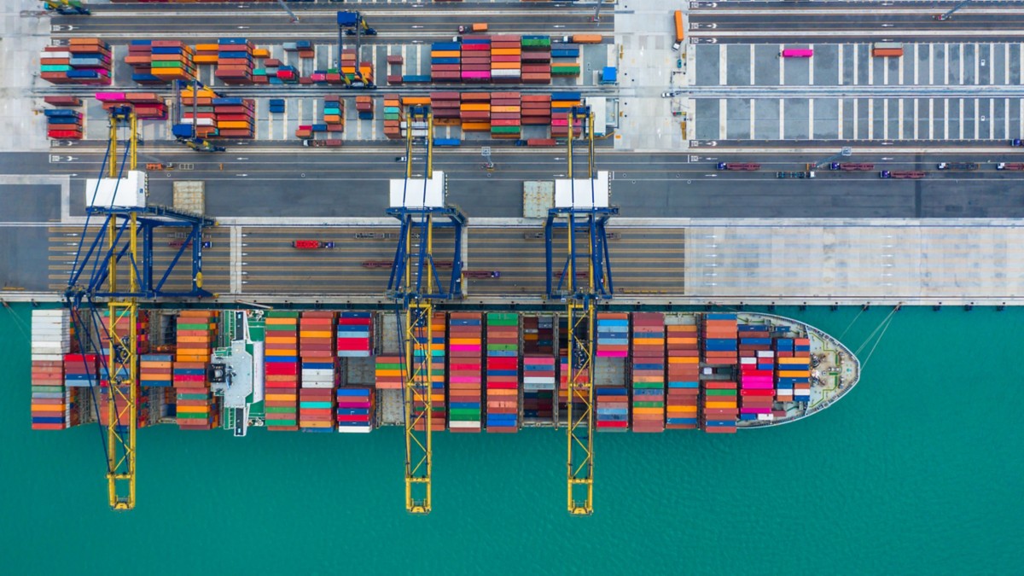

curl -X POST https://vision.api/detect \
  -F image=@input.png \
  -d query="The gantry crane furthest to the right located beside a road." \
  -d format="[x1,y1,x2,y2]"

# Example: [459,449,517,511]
[541,102,619,517]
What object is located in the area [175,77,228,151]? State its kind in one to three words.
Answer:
crane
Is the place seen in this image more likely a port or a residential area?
port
